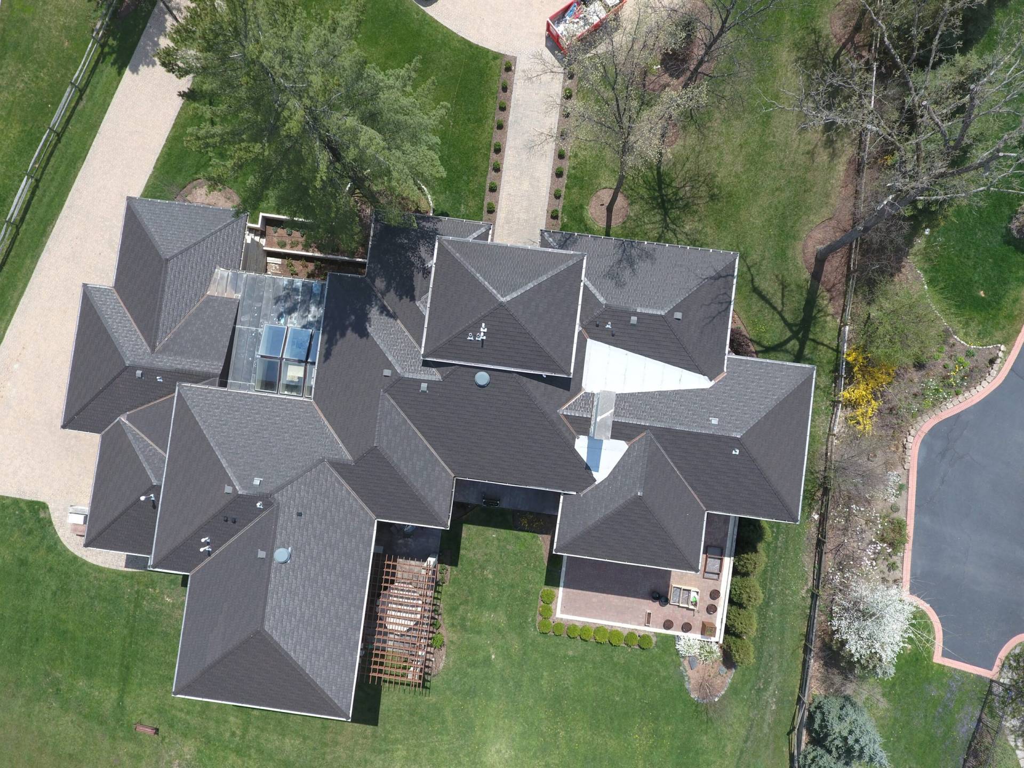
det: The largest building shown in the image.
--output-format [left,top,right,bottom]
[59,194,819,723]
